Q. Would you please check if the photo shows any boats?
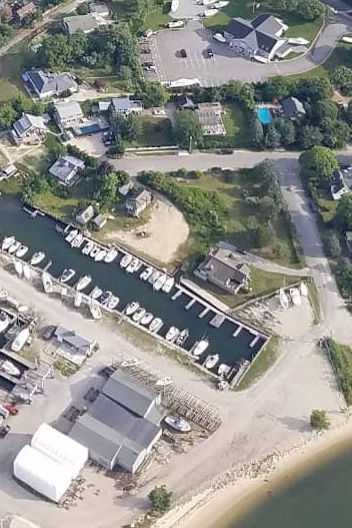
Yes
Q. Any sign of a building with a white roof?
Yes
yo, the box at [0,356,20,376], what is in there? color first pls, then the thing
white boat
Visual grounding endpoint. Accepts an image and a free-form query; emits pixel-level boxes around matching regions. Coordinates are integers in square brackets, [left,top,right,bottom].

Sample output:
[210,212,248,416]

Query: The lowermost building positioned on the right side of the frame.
[196,244,251,304]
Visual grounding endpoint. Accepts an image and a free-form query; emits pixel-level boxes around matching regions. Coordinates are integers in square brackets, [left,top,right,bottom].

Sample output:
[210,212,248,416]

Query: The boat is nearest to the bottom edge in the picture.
[163,415,190,432]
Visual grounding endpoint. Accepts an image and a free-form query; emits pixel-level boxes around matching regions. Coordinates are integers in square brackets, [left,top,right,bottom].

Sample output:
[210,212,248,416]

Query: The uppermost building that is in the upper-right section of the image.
[219,13,299,66]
